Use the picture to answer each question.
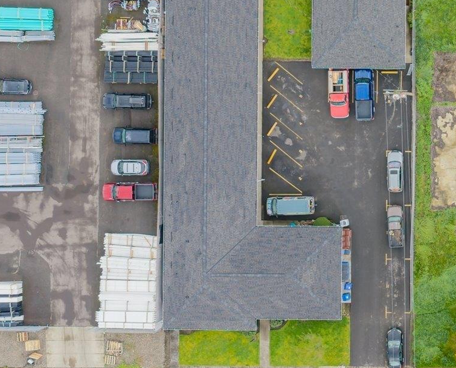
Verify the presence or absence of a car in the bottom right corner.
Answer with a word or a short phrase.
Yes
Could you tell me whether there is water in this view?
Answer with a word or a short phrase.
No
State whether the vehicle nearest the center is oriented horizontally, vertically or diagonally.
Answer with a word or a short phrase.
horizontally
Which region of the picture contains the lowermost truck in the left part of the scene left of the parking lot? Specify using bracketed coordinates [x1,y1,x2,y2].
[102,181,158,204]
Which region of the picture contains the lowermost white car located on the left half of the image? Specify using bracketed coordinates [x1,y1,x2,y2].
[111,157,153,178]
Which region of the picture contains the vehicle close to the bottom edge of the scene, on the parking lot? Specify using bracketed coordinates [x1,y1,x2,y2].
[384,326,405,368]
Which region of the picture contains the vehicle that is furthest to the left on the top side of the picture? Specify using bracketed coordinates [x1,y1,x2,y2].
[0,76,36,97]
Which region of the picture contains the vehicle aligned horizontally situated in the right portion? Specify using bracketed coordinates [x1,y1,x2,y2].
[266,196,317,219]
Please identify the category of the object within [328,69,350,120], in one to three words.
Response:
truck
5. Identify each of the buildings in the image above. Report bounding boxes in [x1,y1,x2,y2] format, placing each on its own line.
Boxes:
[311,0,408,69]
[165,0,343,331]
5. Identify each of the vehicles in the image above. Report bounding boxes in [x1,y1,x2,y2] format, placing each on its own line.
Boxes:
[384,326,405,368]
[328,69,350,120]
[266,196,317,219]
[112,126,158,146]
[385,205,405,250]
[103,89,155,112]
[111,157,153,178]
[0,76,36,97]
[102,181,158,204]
[352,69,375,121]
[384,151,405,194]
